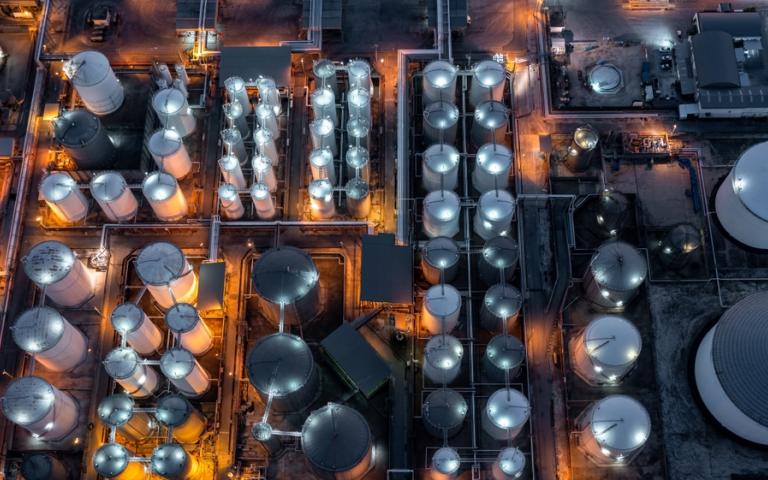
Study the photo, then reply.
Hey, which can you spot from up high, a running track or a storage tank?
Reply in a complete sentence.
The image shows a storage tank.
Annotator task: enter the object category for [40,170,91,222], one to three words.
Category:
storage tank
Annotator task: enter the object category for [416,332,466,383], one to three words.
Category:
storage tank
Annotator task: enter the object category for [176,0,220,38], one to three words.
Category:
building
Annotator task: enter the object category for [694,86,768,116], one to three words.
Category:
building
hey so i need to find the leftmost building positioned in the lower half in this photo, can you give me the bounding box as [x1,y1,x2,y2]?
[197,262,228,315]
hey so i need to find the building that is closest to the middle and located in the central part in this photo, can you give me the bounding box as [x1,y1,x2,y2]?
[362,234,412,311]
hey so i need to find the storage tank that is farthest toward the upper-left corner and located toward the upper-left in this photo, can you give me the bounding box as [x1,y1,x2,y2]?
[69,50,129,113]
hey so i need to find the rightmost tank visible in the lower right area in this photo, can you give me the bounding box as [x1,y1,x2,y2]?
[684,286,768,460]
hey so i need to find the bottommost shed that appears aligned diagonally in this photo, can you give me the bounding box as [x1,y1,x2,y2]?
[320,322,390,404]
